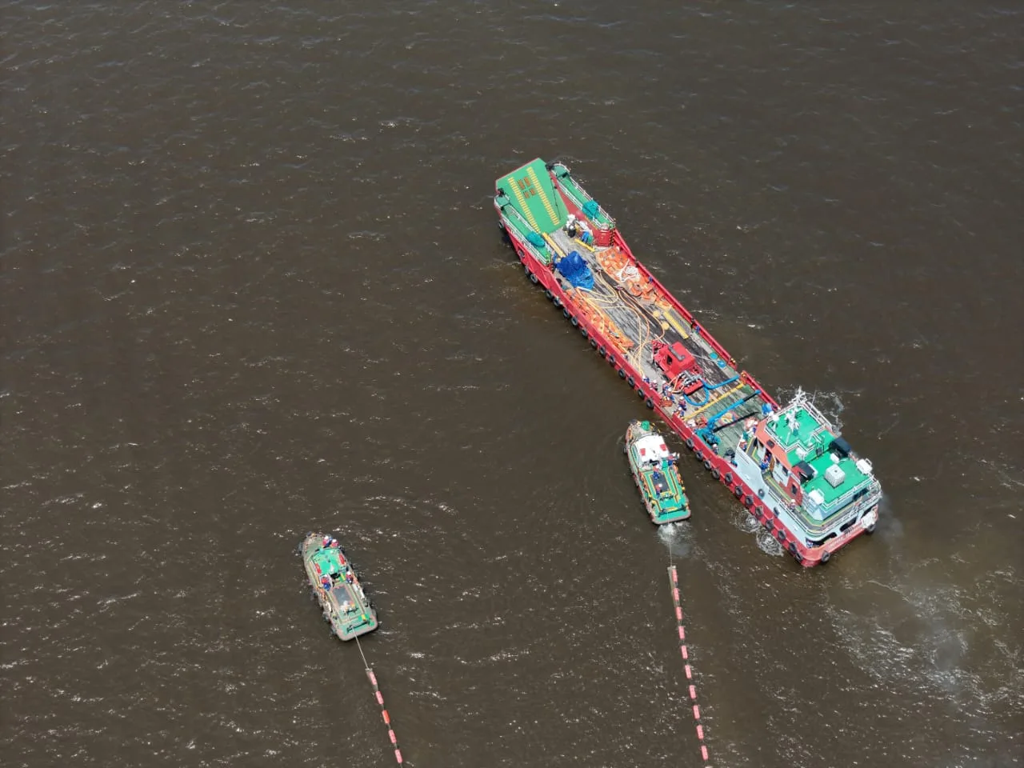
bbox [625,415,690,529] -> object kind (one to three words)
boat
